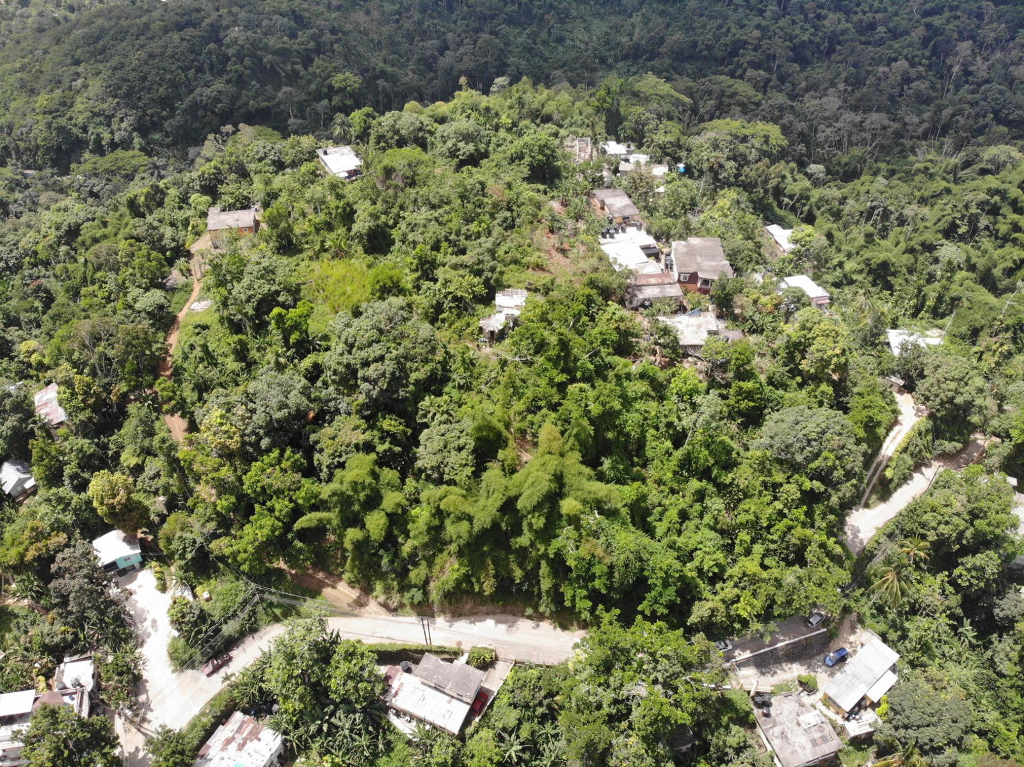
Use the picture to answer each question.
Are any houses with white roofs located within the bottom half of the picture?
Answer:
Yes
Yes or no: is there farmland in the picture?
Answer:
No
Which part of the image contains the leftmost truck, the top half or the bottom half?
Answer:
bottom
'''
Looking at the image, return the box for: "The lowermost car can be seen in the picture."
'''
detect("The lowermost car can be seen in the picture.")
[470,688,493,720]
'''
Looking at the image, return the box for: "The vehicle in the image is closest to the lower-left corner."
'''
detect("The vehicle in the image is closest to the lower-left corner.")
[199,648,237,680]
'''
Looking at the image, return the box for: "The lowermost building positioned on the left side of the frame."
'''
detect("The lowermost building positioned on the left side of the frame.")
[200,711,283,767]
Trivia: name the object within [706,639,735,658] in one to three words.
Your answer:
car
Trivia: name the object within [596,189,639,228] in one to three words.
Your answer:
house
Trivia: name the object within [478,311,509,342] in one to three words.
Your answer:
shed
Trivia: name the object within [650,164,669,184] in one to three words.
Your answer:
house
